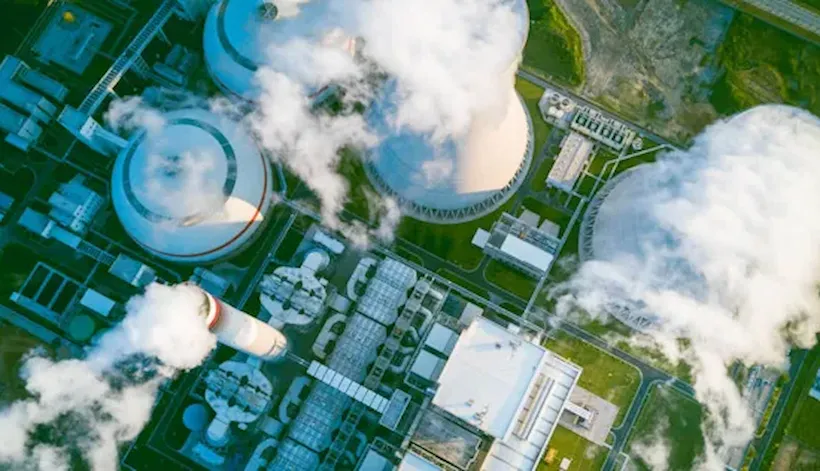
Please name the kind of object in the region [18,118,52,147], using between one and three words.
shed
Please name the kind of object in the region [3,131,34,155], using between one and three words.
shed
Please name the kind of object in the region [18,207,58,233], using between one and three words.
house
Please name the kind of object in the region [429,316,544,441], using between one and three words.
building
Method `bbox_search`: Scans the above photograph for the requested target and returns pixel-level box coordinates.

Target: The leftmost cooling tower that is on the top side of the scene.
[360,0,535,224]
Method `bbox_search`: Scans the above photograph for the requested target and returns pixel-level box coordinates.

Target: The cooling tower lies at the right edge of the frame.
[581,111,820,340]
